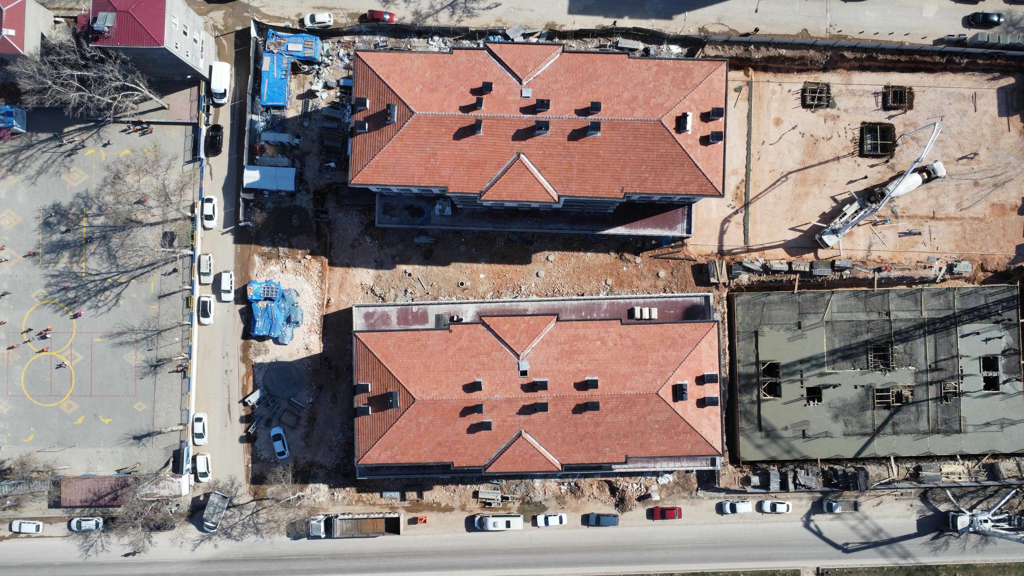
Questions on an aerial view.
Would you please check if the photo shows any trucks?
Yes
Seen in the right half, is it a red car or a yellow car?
red car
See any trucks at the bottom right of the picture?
Yes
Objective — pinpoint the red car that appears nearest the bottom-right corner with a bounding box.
[653,507,684,523]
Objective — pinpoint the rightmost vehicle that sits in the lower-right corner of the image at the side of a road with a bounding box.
[940,486,1024,543]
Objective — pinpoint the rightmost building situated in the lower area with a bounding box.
[352,293,723,479]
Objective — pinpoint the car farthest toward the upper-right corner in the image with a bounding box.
[971,8,1008,27]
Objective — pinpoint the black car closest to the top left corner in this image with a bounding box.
[204,123,222,155]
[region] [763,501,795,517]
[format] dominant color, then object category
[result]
white car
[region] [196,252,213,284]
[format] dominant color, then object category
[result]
white car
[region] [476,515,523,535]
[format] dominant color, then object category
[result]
white vehicle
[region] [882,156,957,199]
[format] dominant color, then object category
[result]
white truck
